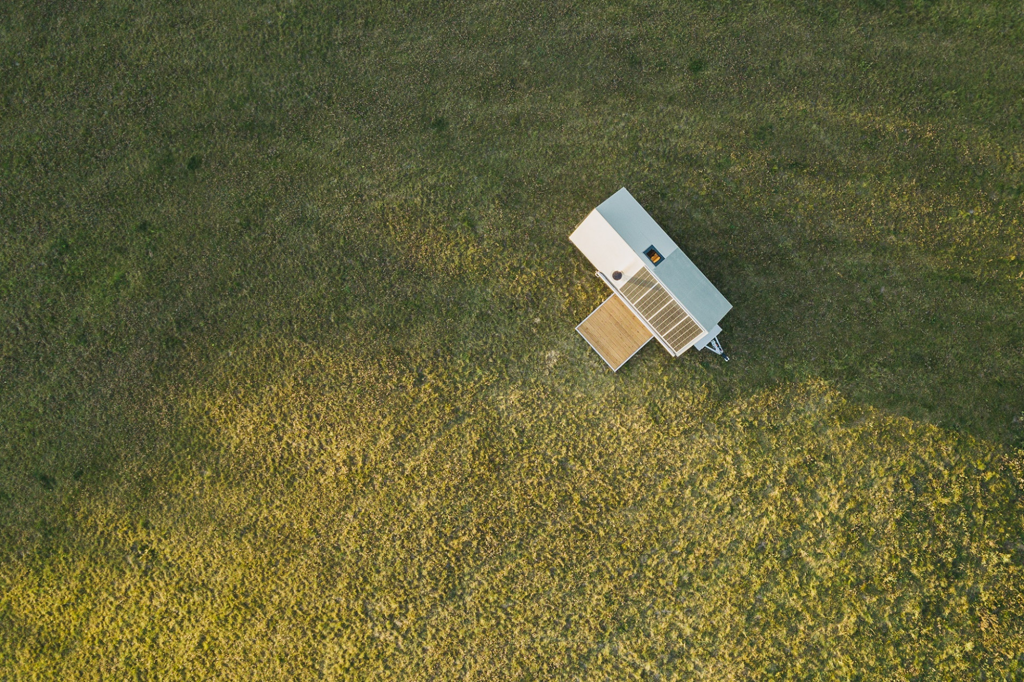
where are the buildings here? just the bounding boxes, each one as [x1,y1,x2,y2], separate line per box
[569,186,733,361]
